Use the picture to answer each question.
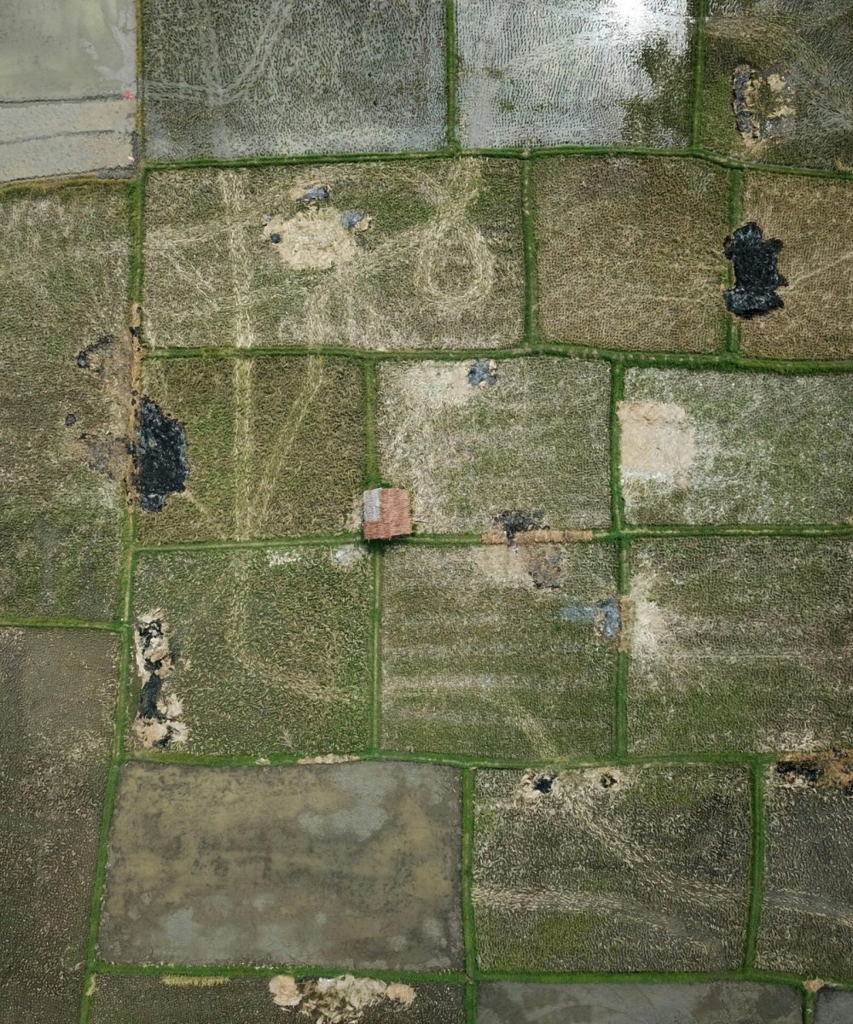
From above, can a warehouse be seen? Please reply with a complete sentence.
No, the frame has no warehouse in it.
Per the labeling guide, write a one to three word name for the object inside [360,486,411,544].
shed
